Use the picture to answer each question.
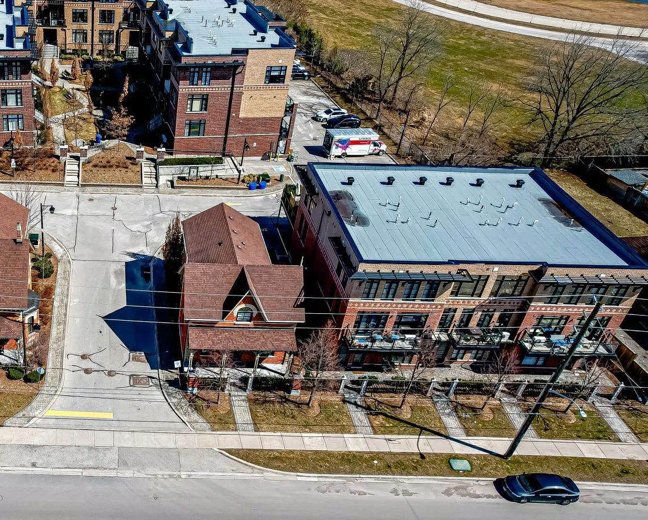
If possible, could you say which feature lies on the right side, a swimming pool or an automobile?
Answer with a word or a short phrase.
automobile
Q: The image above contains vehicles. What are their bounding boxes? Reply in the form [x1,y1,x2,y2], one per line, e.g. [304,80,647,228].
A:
[326,128,393,159]
[315,106,350,122]
[327,115,364,129]
[294,67,317,82]
[498,474,579,510]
